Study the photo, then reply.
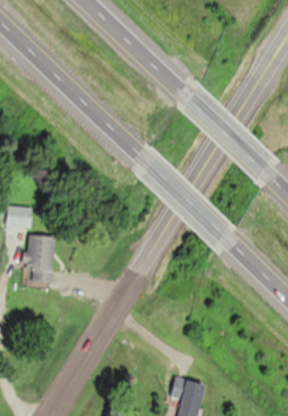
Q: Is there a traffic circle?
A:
No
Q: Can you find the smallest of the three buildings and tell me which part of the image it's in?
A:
left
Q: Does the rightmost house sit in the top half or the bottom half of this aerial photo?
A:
bottom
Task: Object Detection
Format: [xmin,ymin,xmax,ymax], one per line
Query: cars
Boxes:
[6,264,14,274]
[83,340,92,350]
[275,290,286,300]
[73,289,84,294]
[15,250,22,262]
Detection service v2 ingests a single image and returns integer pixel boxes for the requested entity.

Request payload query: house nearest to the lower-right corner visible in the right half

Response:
[164,376,205,416]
